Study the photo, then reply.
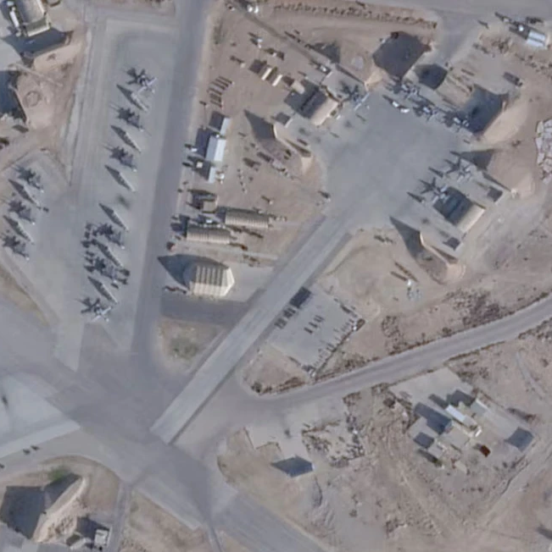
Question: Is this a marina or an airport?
airport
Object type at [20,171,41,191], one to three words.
airplane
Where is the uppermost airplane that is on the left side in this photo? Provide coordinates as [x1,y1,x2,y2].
[137,74,156,93]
